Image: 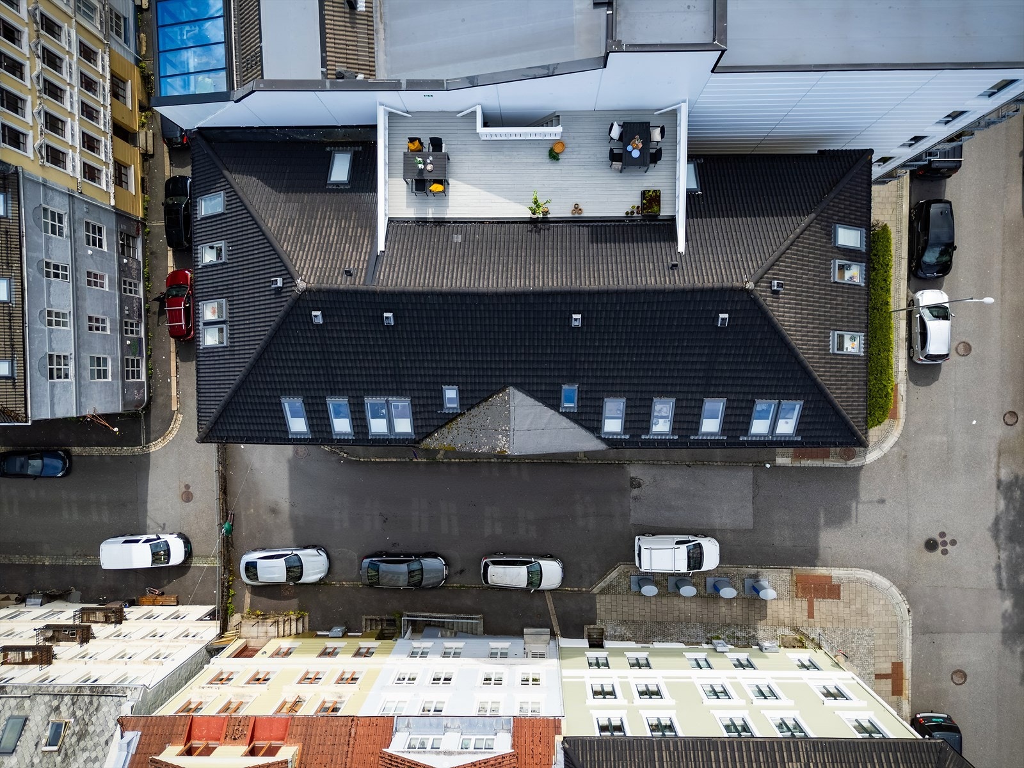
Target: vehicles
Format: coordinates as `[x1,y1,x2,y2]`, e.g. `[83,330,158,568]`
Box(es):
[907,288,955,366]
[146,266,193,343]
[913,708,960,768]
[156,172,192,253]
[0,445,74,485]
[634,533,722,578]
[481,552,566,595]
[360,550,450,593]
[912,132,973,194]
[908,196,959,283]
[239,544,331,588]
[93,531,192,575]
[156,108,191,156]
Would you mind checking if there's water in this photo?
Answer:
No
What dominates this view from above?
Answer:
buildings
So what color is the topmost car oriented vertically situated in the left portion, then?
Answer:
black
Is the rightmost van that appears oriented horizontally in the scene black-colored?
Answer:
No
